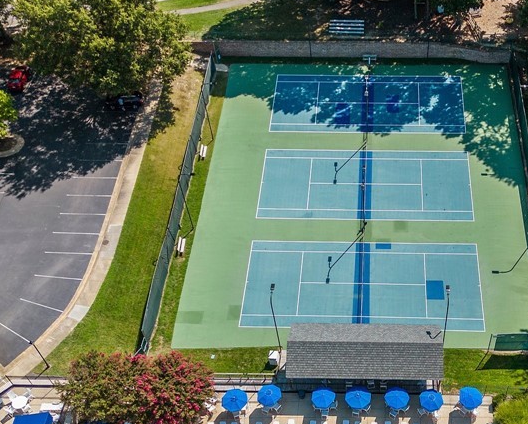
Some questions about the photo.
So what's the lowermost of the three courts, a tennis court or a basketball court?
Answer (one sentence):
What you see as the lowermost of the three courts is a tennis court.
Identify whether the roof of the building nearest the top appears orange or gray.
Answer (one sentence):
The roof of the building nearest the top looks gray in the image.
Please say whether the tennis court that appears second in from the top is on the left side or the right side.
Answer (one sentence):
The tennis court that appears second in from the top sits on the right side.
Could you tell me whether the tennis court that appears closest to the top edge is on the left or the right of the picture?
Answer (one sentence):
The tennis court that appears closest to the top edge appears in the right half of the scene.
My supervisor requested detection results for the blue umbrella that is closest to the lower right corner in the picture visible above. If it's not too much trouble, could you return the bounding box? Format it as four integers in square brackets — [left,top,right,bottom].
[457,390,484,415]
